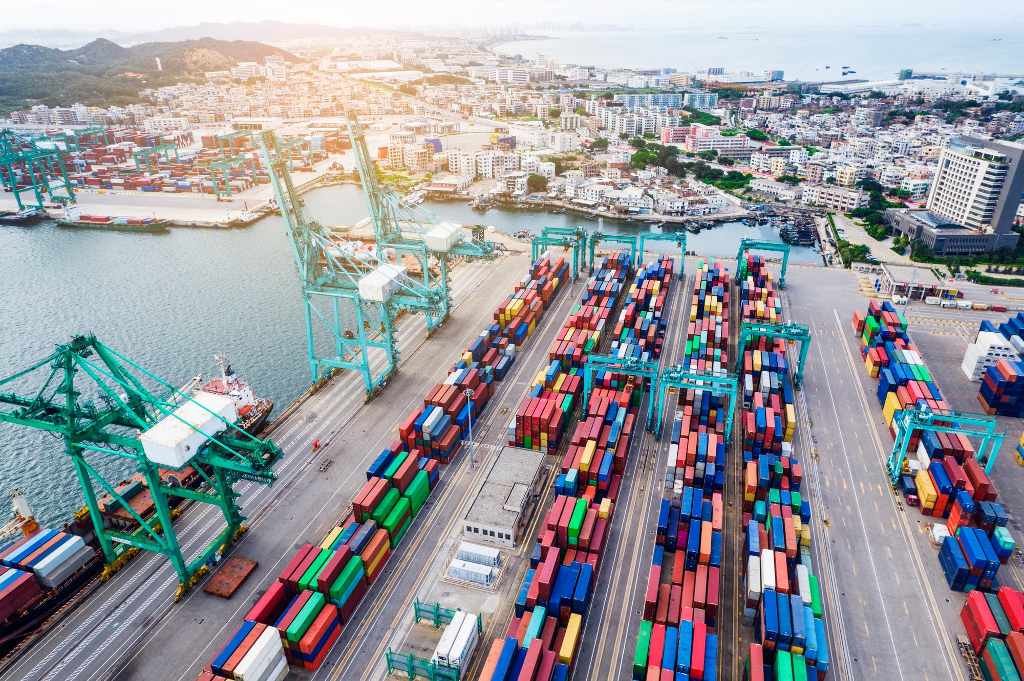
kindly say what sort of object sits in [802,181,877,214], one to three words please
building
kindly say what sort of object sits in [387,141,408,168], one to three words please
building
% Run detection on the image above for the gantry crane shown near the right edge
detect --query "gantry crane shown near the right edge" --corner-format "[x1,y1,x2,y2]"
[883,403,1002,488]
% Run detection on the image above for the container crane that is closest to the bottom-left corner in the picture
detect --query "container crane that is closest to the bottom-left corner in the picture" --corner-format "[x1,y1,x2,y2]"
[0,317,284,603]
